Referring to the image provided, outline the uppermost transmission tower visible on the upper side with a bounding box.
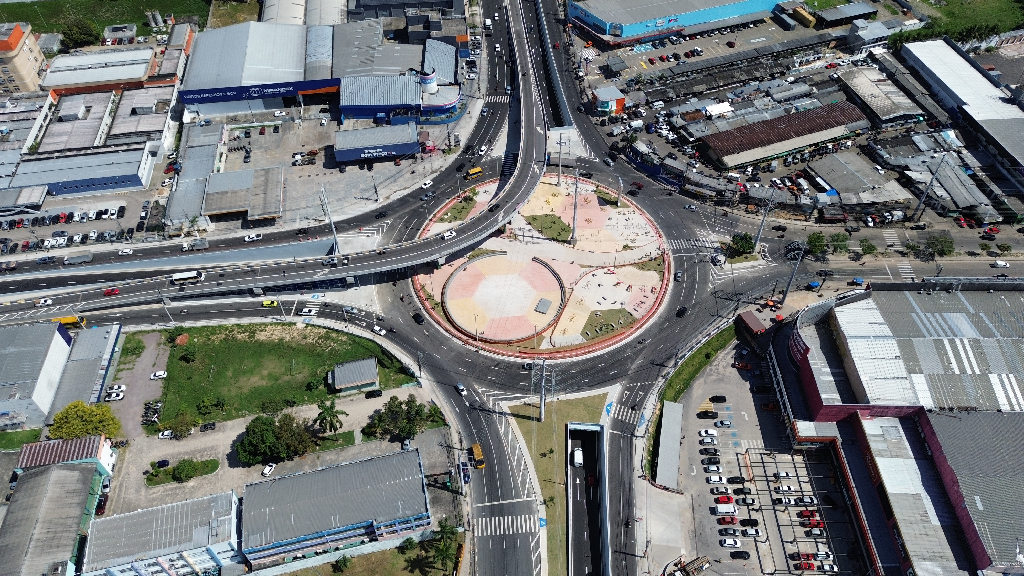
[553,122,568,182]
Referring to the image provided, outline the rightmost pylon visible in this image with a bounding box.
[910,154,955,222]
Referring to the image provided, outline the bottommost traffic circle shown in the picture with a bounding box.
[369,155,714,394]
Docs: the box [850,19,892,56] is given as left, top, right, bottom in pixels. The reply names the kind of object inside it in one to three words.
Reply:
building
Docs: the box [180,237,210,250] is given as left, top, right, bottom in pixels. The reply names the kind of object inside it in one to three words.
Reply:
vehicle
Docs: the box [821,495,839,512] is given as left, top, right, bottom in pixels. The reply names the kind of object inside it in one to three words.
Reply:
car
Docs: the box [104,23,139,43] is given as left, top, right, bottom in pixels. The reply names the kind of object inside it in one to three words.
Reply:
shed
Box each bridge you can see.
[0,0,550,326]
